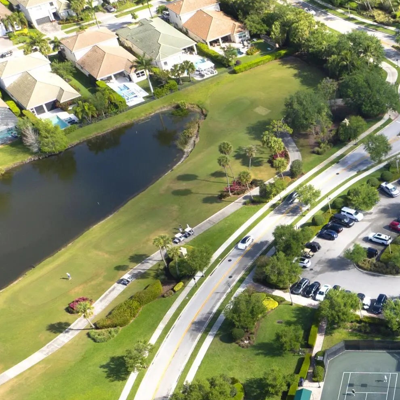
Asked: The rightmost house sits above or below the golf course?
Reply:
above it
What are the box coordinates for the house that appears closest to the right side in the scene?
[164,0,249,49]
